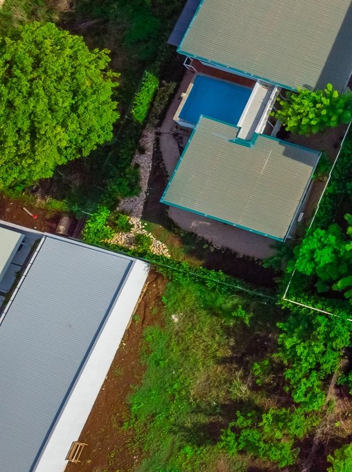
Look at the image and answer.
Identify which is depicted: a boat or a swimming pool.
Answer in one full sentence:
Visible in the photo is a swimming pool.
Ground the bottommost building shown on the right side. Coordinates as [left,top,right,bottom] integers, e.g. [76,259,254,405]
[157,113,326,246]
